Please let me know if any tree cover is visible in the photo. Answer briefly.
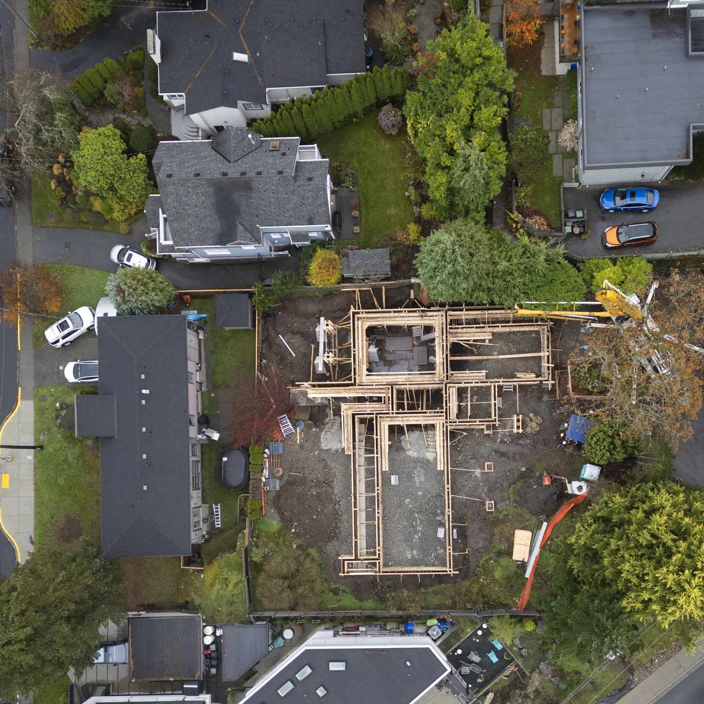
Yes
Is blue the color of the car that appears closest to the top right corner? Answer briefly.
Yes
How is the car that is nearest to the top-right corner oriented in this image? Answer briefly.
from side to side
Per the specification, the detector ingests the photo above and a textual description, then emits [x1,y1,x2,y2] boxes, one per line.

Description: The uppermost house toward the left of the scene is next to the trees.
[147,0,365,143]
